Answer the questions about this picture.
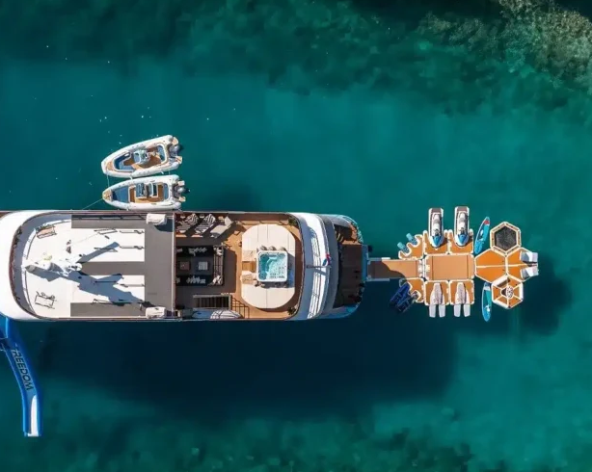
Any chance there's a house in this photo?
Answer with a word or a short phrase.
No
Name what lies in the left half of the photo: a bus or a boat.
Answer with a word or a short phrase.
boat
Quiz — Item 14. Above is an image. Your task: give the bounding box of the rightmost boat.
[453,208,468,247]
